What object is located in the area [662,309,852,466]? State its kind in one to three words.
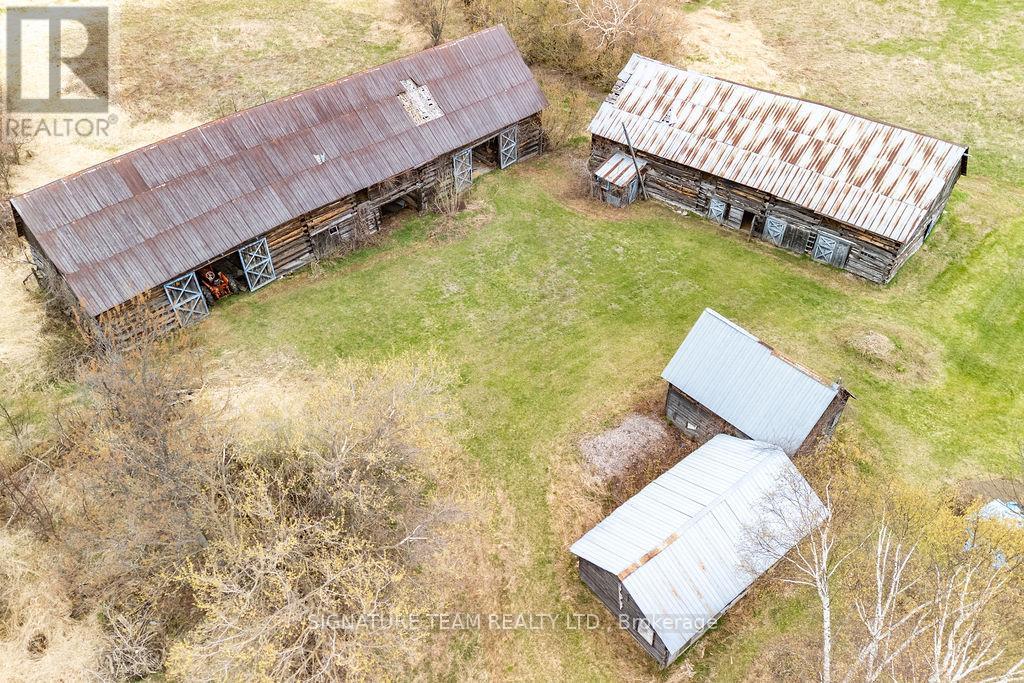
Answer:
shed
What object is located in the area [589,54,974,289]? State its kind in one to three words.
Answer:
barn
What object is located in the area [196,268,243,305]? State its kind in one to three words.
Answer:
work vehicle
